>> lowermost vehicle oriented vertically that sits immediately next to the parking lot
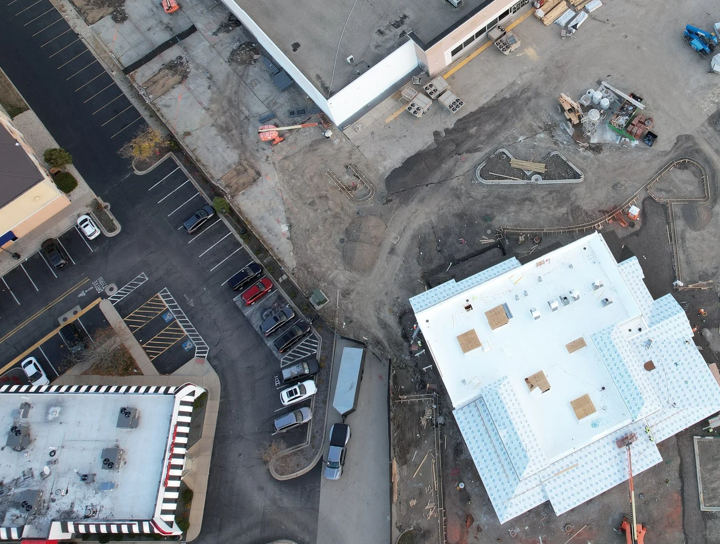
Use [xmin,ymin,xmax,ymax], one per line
[325,426,349,478]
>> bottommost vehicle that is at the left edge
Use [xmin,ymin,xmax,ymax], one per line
[19,353,51,385]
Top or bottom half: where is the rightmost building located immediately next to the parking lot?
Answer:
bottom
